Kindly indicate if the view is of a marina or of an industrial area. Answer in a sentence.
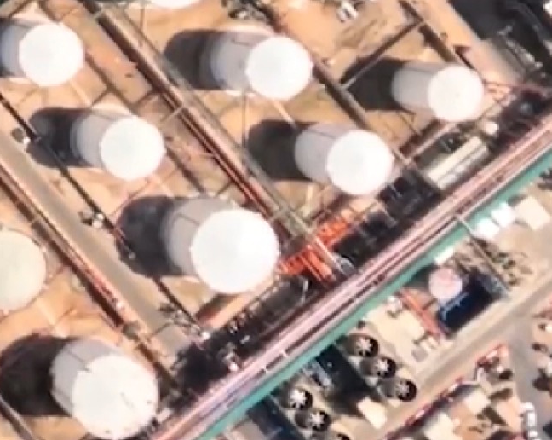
The area seen from above is an industrial area.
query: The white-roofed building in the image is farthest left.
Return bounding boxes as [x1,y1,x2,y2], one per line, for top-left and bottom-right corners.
[351,394,387,428]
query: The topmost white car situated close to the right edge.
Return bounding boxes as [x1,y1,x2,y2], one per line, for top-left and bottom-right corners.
[521,401,536,424]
